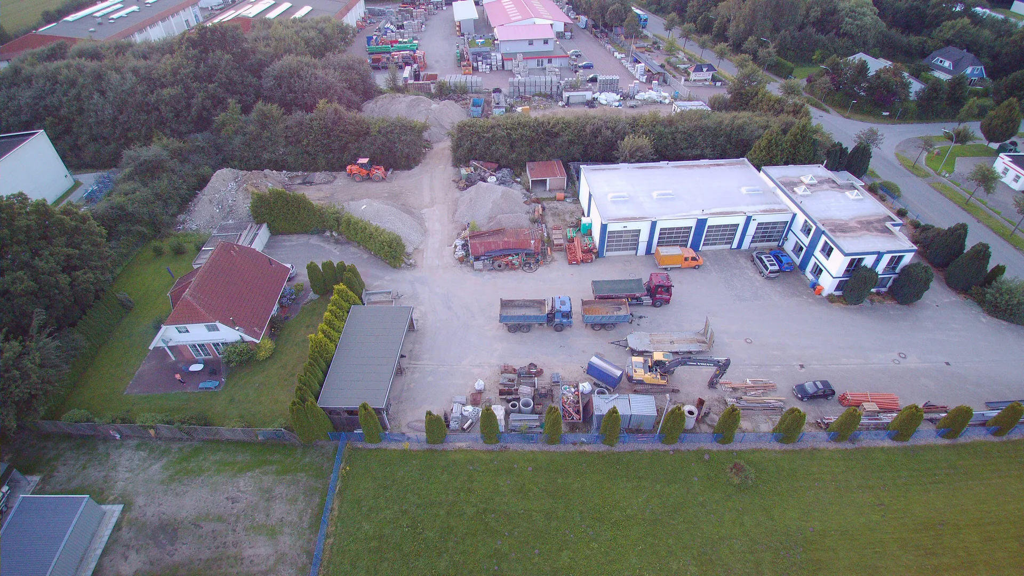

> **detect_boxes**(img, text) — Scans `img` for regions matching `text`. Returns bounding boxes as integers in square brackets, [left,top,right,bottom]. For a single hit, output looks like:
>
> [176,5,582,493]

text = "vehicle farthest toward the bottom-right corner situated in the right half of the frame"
[791,380,839,404]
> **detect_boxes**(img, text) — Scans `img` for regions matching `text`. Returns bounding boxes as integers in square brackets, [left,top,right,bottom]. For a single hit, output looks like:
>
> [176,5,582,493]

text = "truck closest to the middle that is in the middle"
[500,296,574,331]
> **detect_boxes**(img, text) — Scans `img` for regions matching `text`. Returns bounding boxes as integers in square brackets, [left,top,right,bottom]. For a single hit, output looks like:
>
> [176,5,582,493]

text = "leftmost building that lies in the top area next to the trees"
[0,130,76,204]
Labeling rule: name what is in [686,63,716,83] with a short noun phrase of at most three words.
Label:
building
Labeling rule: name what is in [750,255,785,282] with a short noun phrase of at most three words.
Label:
car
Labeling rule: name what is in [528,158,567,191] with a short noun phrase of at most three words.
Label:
building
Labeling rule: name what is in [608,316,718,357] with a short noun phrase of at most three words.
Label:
vehicle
